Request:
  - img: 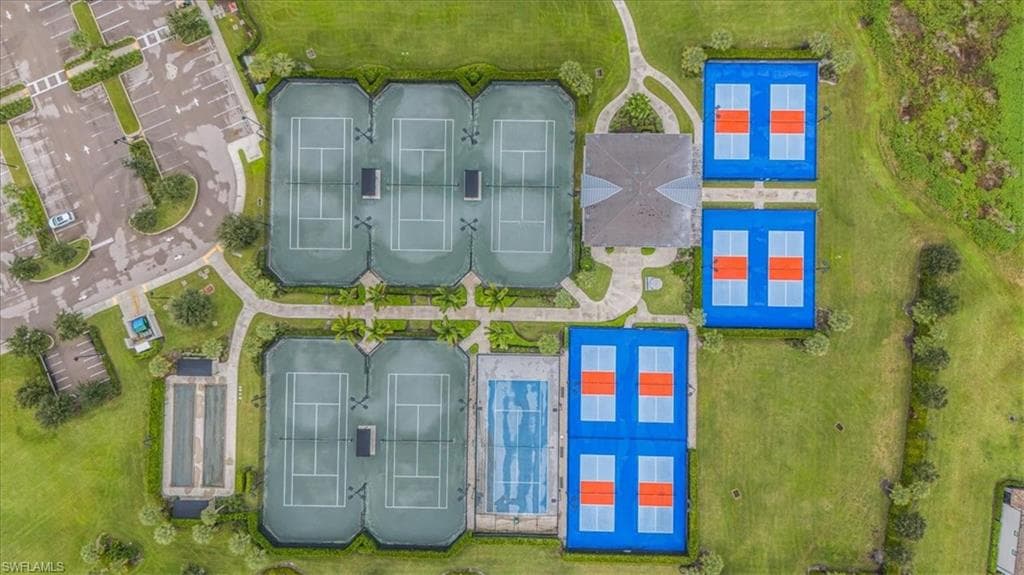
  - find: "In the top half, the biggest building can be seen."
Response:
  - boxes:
[580,133,701,247]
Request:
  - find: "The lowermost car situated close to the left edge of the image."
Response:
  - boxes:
[50,211,77,229]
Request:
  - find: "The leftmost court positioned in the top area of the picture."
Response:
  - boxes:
[269,83,372,283]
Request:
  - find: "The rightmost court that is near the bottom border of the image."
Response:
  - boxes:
[627,439,687,553]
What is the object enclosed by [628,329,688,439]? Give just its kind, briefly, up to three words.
sports court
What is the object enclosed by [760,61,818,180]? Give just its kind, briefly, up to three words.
sports court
